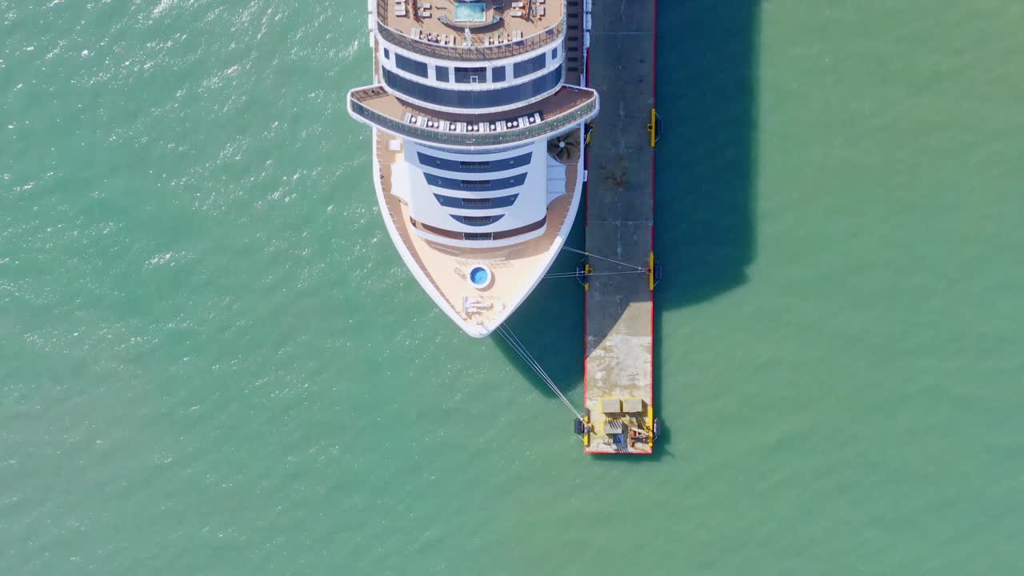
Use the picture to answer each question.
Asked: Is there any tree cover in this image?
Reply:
No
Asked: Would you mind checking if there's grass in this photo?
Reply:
No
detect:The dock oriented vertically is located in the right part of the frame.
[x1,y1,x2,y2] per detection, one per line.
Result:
[583,0,658,454]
